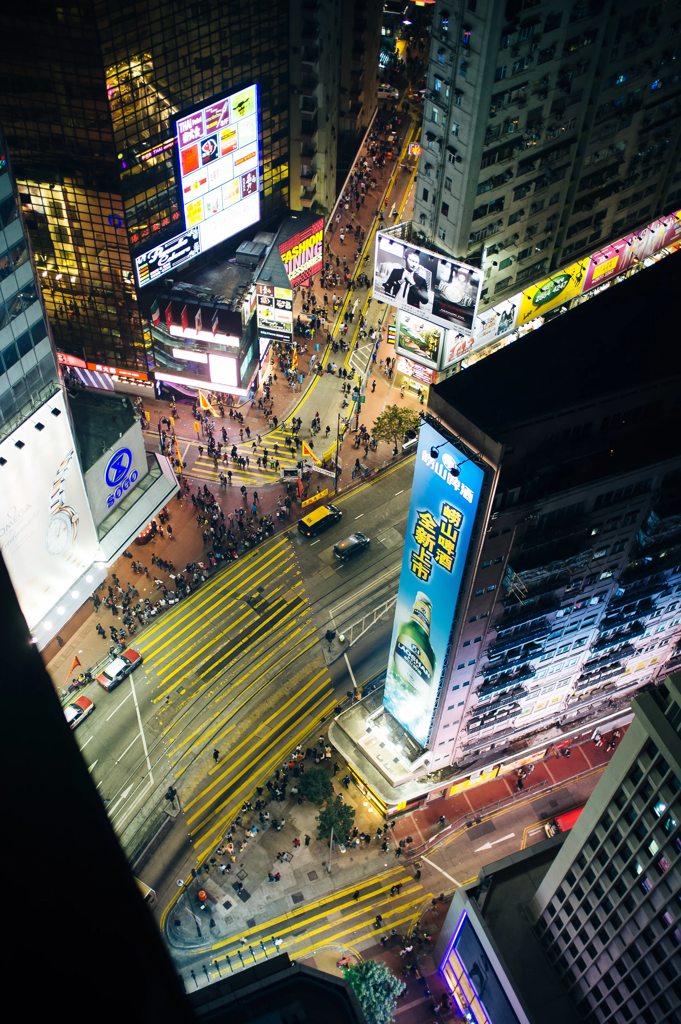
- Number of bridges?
none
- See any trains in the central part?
No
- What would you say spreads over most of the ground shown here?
buildings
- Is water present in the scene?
No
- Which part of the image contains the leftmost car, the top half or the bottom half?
bottom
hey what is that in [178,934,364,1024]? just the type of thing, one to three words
building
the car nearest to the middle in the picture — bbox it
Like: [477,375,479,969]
[333,532,371,561]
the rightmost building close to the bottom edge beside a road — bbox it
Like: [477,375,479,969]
[433,664,681,1024]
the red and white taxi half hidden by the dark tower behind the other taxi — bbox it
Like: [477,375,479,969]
[69,693,101,727]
